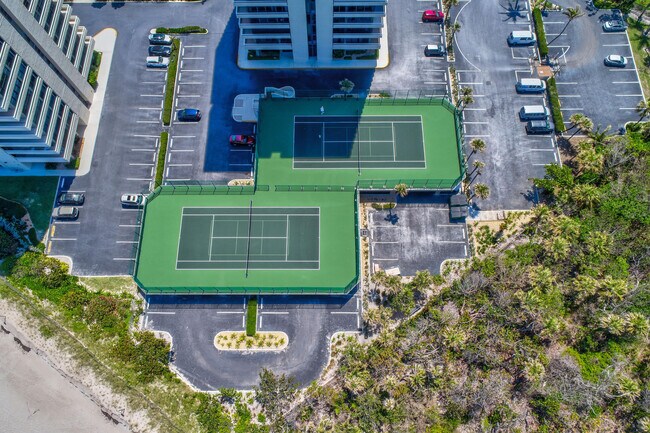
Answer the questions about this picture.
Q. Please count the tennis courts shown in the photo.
2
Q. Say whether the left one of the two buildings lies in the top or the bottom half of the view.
top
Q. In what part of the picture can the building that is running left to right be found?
top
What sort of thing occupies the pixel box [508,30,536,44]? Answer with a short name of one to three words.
vehicle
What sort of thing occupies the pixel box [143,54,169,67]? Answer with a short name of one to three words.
vehicle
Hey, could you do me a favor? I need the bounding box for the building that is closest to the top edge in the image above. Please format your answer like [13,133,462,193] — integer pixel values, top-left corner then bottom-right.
[233,0,387,63]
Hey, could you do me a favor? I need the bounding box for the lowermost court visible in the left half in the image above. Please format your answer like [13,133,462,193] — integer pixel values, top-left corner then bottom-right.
[133,187,359,293]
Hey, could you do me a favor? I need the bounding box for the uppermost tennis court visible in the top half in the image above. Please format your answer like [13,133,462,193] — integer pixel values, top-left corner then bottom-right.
[252,98,465,189]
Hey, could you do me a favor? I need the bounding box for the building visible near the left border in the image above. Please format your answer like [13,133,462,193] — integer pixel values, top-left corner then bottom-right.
[0,0,97,170]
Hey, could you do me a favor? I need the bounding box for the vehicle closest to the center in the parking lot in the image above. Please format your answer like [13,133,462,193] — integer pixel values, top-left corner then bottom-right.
[229,135,253,147]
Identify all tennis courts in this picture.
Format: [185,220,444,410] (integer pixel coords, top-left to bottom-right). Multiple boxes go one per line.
[252,98,465,189]
[133,187,359,293]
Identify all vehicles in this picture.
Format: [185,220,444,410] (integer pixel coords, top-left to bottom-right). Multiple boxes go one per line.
[146,43,171,55]
[53,205,81,218]
[526,121,554,134]
[521,105,550,120]
[422,43,444,55]
[229,135,253,147]
[147,32,171,44]
[419,8,441,20]
[516,78,545,93]
[508,30,536,44]
[601,20,627,31]
[607,55,631,67]
[58,192,85,204]
[118,193,147,206]
[175,109,199,120]
[143,54,169,67]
